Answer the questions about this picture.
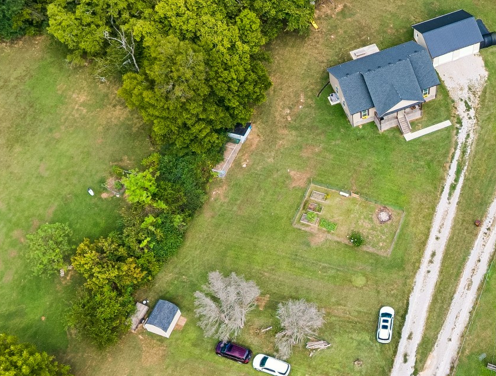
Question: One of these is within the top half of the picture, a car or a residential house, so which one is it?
residential house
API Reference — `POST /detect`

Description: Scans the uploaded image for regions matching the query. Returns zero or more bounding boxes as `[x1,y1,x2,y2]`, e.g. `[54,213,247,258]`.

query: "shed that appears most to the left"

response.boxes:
[140,298,186,337]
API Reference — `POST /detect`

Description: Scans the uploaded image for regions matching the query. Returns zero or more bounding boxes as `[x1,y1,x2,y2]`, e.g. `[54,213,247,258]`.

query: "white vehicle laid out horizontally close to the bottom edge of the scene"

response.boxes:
[252,355,292,376]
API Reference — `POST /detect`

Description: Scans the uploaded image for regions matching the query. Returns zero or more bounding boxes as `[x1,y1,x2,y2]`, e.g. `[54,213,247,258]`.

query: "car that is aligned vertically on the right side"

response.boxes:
[377,308,395,345]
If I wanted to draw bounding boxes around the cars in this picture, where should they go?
[214,343,254,365]
[377,308,395,345]
[252,355,292,376]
